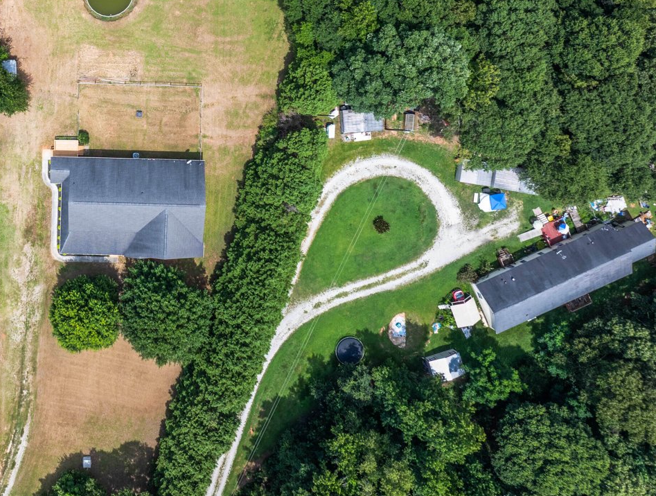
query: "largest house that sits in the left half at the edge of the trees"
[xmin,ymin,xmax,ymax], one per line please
[50,156,207,261]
